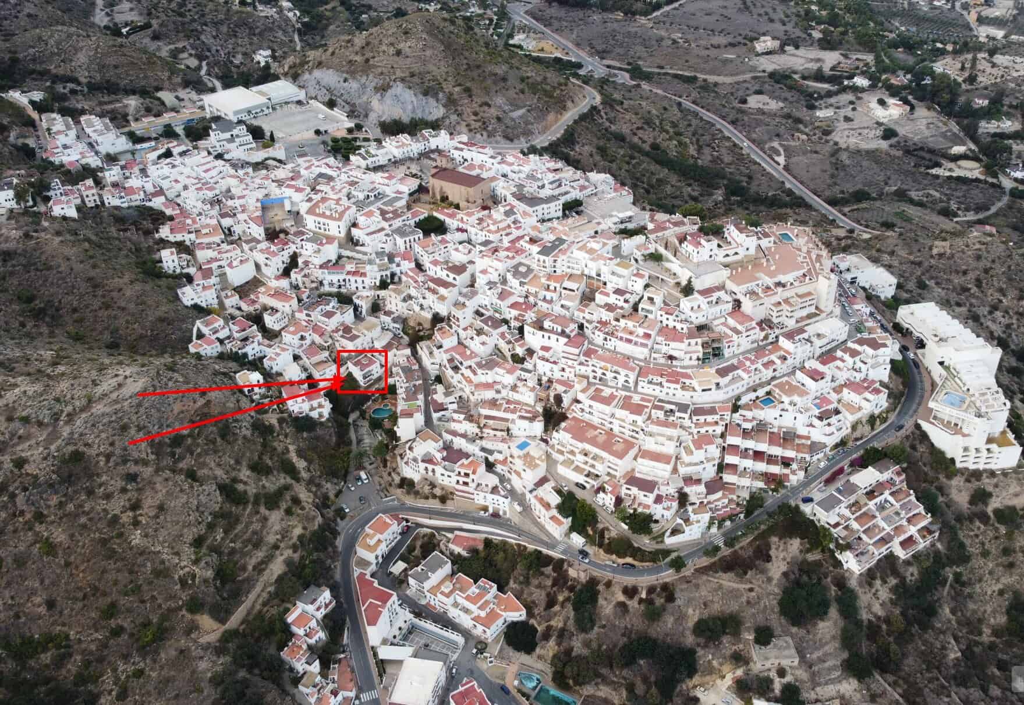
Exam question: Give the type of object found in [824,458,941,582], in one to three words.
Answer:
building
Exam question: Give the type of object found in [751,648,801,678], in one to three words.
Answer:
house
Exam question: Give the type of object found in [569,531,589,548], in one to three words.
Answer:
vehicle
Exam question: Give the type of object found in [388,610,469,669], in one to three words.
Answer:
house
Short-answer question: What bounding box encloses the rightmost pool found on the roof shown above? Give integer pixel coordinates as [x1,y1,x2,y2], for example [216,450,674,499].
[938,390,970,409]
